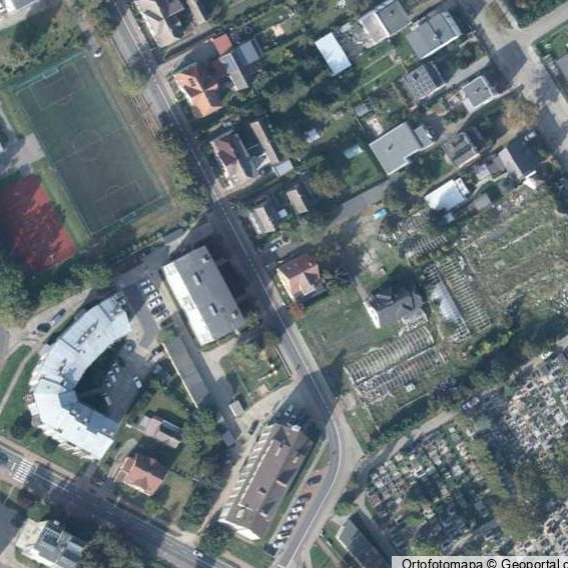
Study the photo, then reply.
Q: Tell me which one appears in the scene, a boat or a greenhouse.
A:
greenhouse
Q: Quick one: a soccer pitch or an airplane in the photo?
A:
soccer pitch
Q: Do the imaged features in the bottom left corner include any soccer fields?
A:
No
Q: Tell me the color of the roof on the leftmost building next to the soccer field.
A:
white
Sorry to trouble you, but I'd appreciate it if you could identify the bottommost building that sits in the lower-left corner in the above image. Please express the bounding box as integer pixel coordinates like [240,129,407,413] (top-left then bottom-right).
[16,518,86,568]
